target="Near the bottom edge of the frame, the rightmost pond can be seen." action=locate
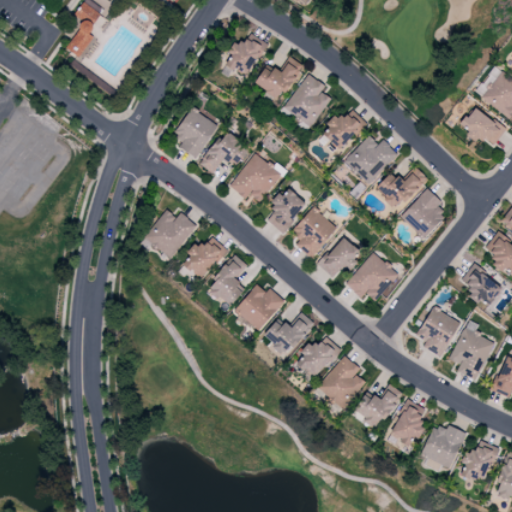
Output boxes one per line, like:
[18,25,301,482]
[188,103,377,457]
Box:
[139,436,318,512]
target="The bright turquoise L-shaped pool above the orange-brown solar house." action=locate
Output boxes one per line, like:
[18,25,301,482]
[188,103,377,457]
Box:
[330,198,350,218]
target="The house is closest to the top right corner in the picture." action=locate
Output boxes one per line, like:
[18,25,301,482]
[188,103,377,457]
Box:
[480,68,512,119]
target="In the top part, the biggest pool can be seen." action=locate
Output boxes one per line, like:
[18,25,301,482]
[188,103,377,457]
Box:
[95,25,142,76]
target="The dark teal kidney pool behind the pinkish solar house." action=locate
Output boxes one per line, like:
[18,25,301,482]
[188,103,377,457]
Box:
[310,144,330,162]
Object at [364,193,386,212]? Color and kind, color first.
blue swimming pool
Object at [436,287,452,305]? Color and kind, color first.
blue swimming pool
